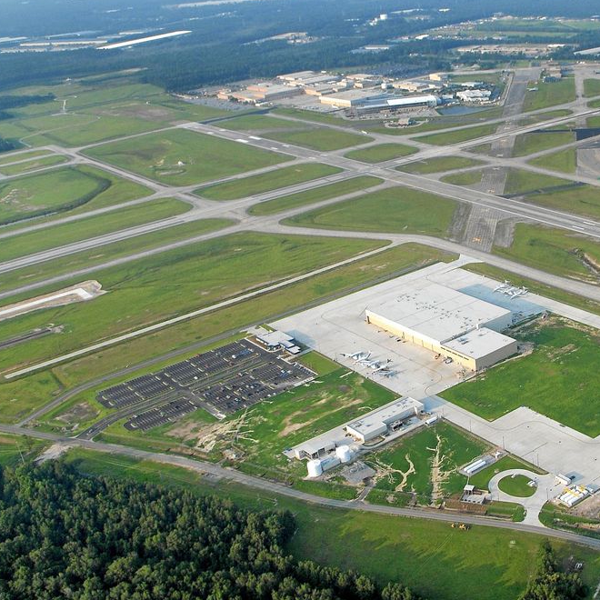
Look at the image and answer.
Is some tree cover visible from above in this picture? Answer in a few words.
Yes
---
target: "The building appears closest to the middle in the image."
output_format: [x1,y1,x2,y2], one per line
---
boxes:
[256,328,302,357]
